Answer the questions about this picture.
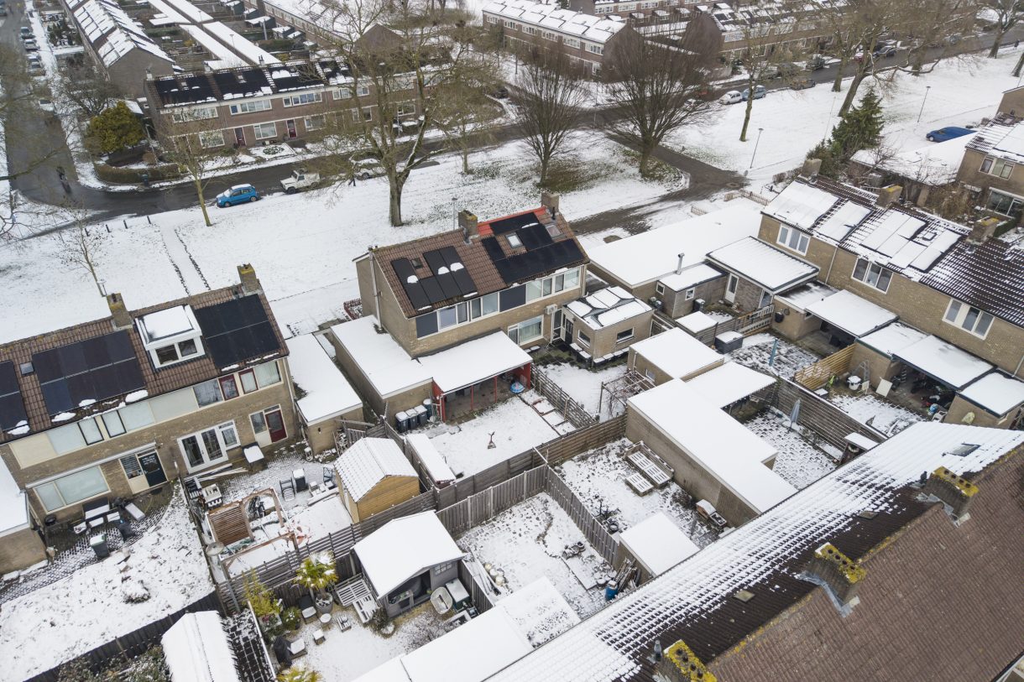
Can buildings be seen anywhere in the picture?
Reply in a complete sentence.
Yes, I can see a building in this picture.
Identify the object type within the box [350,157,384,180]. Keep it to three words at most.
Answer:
car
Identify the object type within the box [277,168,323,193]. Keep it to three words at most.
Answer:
car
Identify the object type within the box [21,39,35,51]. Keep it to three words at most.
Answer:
vehicle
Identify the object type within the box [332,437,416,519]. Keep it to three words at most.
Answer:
shed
